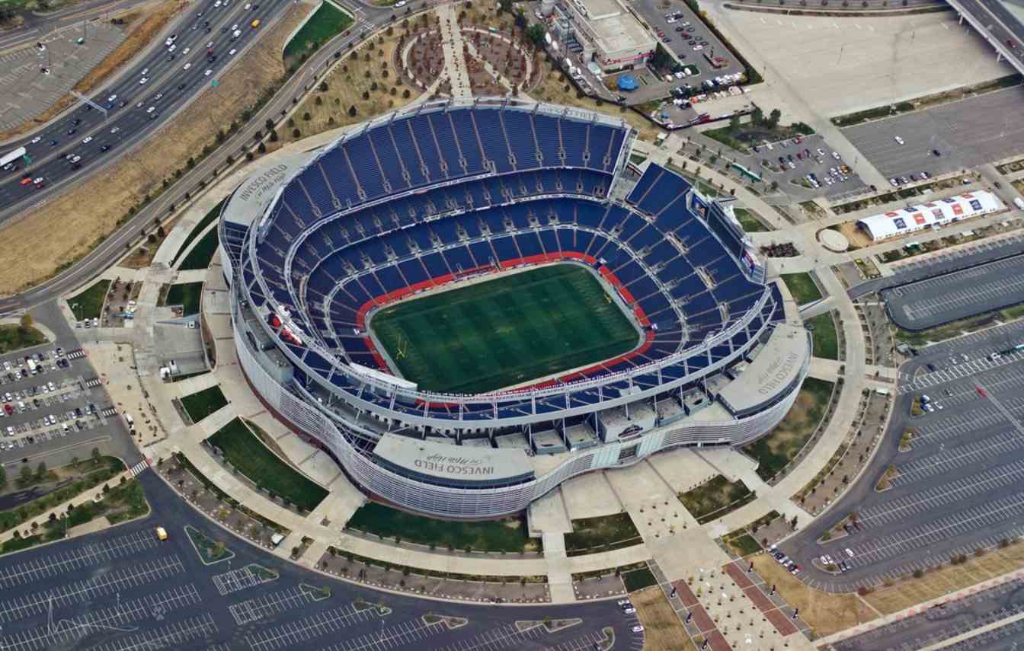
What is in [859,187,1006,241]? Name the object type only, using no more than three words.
tent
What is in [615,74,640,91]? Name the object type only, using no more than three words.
tent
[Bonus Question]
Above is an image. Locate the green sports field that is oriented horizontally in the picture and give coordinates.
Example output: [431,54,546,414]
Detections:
[369,261,646,405]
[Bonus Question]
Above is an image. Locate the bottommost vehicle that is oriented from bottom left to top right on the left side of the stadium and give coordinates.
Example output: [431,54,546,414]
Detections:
[157,362,172,378]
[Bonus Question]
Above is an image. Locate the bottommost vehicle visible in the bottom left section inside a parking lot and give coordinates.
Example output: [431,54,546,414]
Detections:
[155,524,169,541]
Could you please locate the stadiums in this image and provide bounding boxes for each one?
[214,94,817,523]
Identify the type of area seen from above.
sports ground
